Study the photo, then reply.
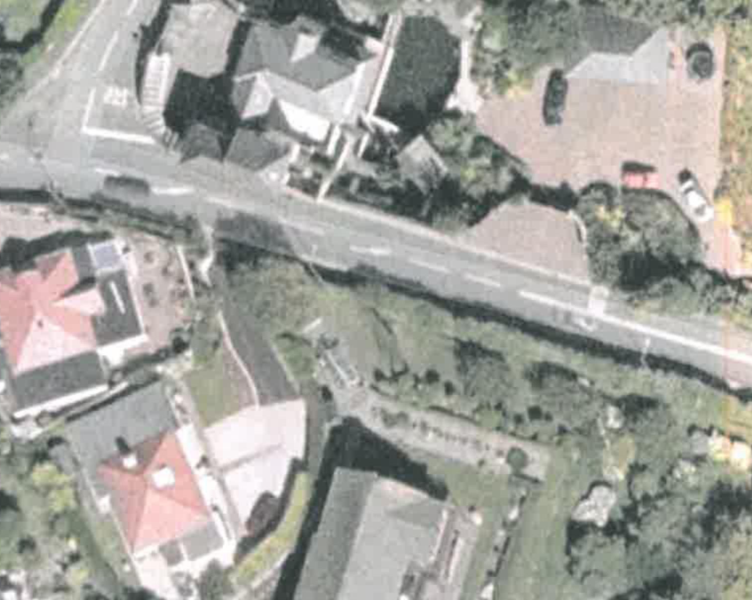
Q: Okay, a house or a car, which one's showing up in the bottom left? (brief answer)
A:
house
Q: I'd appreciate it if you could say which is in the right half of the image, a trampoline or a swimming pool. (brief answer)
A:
trampoline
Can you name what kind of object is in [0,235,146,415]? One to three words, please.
house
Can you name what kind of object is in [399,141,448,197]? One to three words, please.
shed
